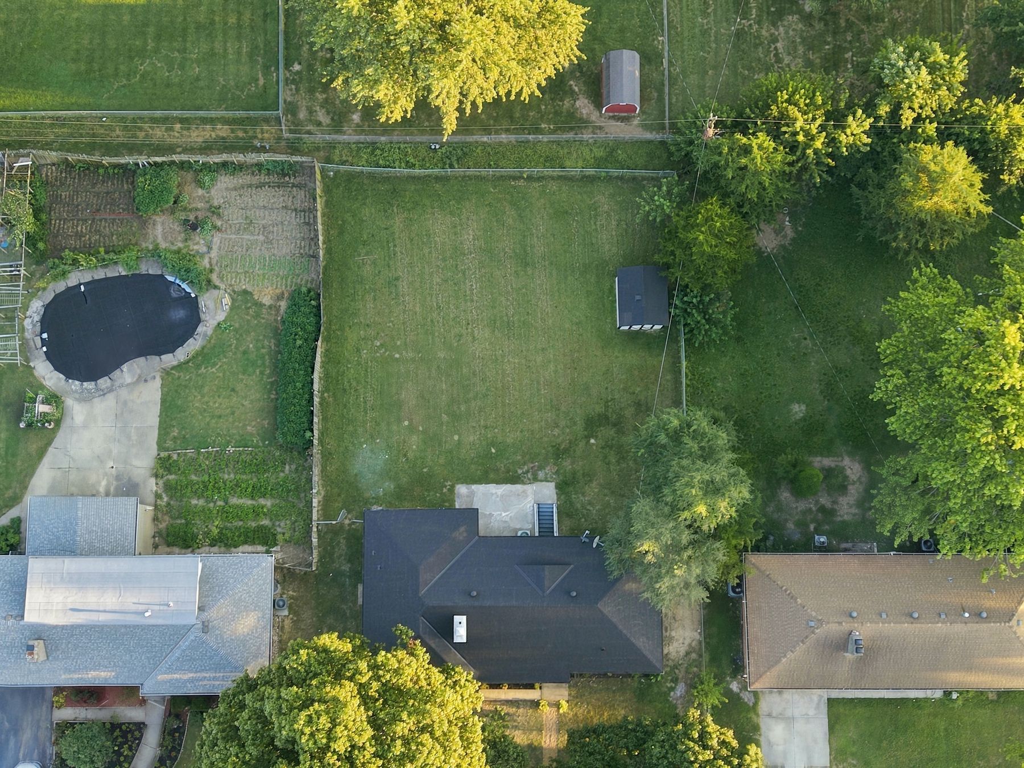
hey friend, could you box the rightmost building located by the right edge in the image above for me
[739,551,1024,693]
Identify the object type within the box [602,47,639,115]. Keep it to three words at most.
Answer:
shed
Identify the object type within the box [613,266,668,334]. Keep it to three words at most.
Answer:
shed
